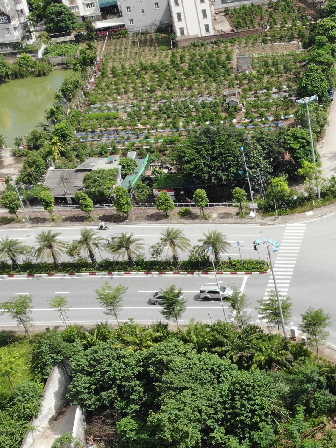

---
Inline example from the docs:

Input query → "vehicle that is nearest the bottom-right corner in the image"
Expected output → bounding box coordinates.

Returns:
[197,285,232,301]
